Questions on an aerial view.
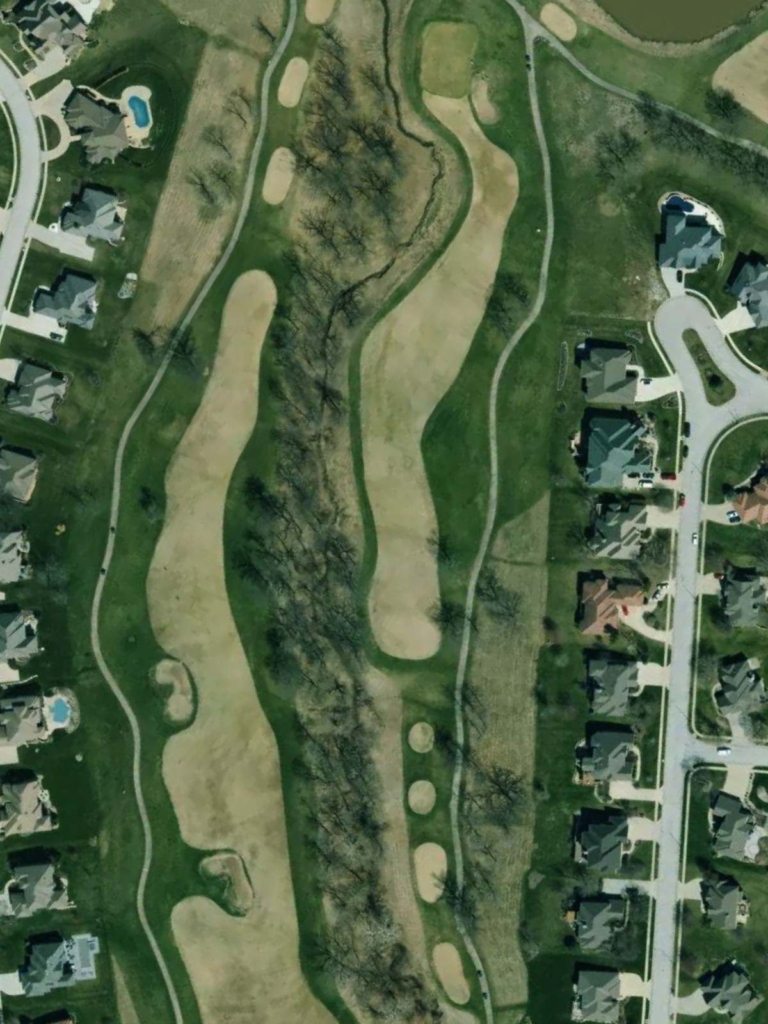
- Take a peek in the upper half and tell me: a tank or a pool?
pool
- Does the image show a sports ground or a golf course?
golf course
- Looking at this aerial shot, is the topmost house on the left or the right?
left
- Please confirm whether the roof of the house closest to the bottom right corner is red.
No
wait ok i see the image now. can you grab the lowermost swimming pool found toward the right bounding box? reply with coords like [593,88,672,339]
[660,192,725,236]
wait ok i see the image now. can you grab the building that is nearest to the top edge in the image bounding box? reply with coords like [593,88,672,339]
[13,0,86,56]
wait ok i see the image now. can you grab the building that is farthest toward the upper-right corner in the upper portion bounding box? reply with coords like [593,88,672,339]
[659,215,722,266]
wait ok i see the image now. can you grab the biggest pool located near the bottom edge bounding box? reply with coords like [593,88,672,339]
[65,934,99,980]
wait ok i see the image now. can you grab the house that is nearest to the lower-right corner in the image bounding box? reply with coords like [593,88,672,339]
[704,970,752,1013]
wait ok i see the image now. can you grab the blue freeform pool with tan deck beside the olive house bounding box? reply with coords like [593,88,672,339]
[120,85,152,147]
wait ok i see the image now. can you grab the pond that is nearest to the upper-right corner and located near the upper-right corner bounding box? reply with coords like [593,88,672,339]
[593,0,766,44]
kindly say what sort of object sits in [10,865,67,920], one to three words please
house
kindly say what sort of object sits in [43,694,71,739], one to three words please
swimming pool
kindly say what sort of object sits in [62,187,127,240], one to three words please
house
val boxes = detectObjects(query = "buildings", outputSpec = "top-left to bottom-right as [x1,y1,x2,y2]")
[659,215,722,266]
[580,900,624,949]
[586,418,652,487]
[13,0,86,56]
[0,449,35,500]
[716,660,767,712]
[581,348,637,403]
[579,972,621,1023]
[734,476,768,525]
[61,90,127,164]
[0,530,21,583]
[726,576,767,630]
[732,261,768,328]
[6,363,66,420]
[0,612,38,664]
[707,879,739,930]
[582,733,634,782]
[62,187,127,240]
[589,661,639,717]
[0,782,51,838]
[19,943,75,998]
[578,579,645,631]
[10,865,67,920]
[704,970,752,1013]
[713,797,755,861]
[595,504,648,558]
[0,696,43,748]
[35,273,99,328]
[581,817,630,872]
